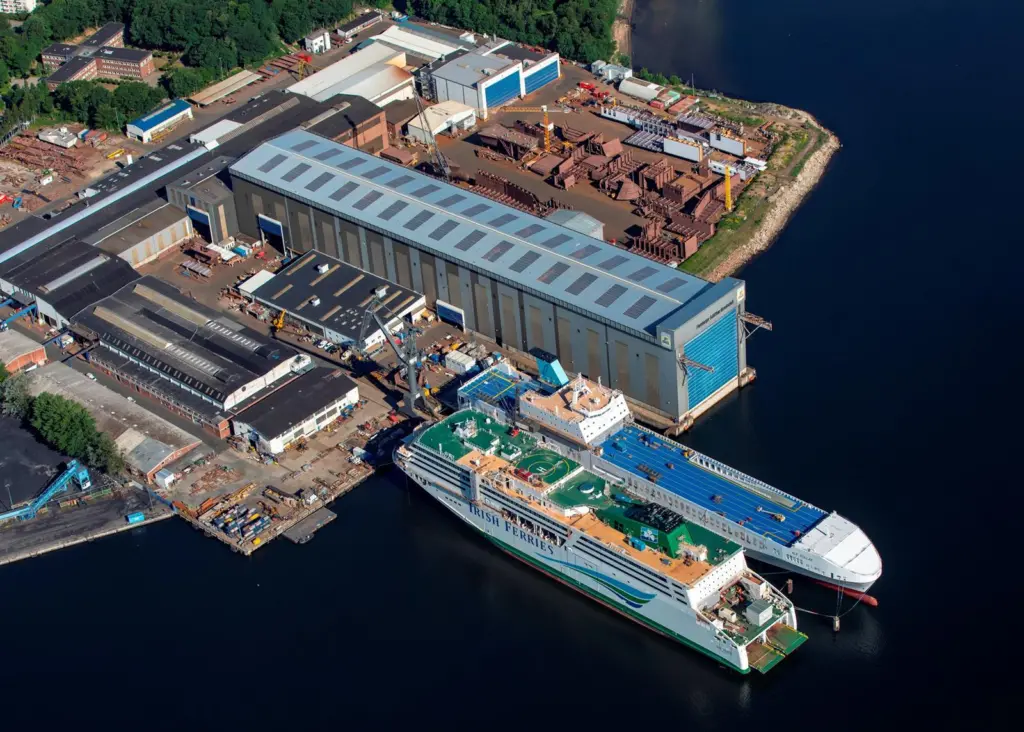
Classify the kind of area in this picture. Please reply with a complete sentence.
The area seen from above is a port.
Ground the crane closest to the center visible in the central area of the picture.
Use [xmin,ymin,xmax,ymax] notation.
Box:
[485,376,525,432]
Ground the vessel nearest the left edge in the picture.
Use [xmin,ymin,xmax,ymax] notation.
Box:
[286,509,337,546]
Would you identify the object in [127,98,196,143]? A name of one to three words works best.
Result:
shed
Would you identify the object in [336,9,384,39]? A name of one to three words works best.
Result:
building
